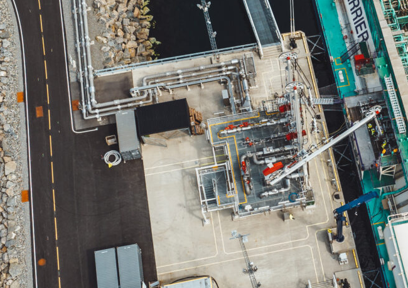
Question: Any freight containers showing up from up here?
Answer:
Yes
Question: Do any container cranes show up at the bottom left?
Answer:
No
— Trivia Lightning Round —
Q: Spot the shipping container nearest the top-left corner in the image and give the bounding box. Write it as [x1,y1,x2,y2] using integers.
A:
[114,107,139,158]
